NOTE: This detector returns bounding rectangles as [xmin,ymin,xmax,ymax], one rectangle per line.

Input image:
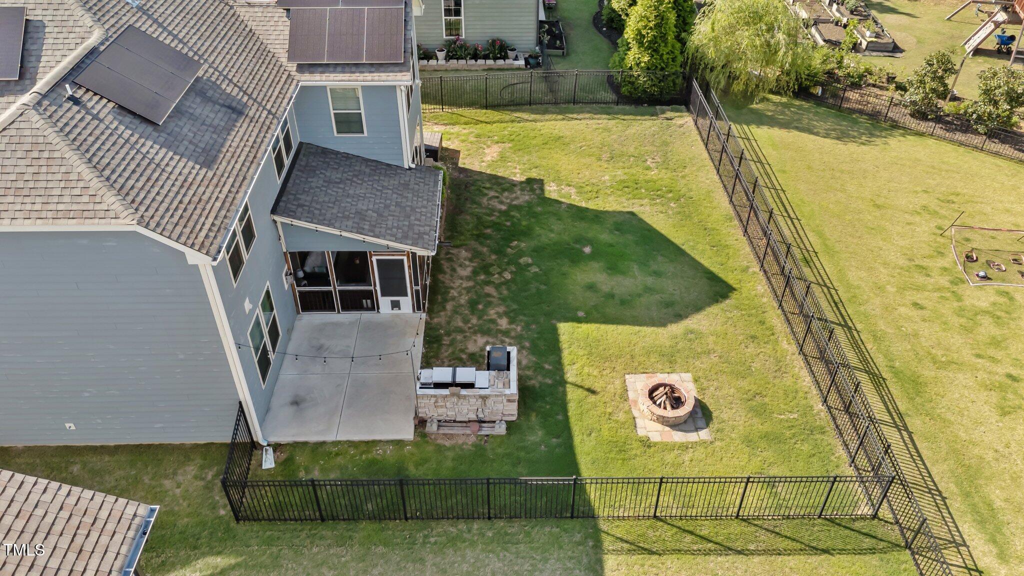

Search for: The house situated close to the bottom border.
[0,470,159,576]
